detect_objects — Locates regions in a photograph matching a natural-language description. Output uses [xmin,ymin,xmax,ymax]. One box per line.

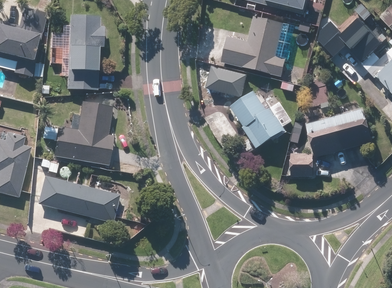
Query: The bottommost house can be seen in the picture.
[39,176,120,221]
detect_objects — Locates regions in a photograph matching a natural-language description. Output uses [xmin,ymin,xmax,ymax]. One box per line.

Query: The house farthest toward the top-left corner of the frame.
[0,7,46,78]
